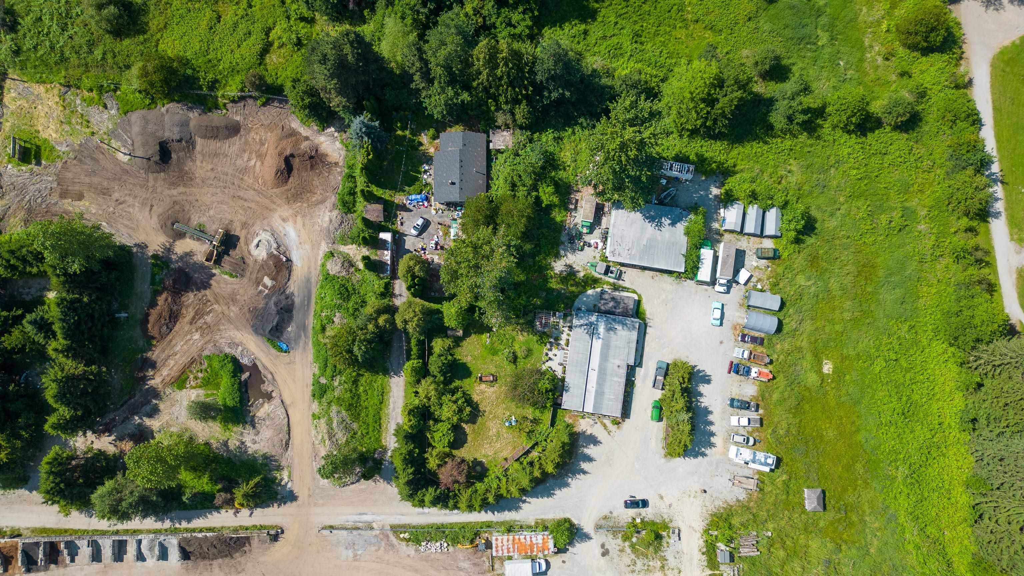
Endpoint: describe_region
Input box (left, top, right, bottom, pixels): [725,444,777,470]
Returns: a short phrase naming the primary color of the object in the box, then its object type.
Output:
white camper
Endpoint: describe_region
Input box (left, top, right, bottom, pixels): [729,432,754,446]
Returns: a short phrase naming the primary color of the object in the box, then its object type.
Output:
white car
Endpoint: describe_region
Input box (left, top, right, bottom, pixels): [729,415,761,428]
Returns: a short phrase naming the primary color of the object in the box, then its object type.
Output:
white vehicle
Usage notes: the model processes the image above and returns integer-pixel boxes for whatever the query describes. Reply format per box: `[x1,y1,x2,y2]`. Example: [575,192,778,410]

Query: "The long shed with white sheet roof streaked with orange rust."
[492,531,554,556]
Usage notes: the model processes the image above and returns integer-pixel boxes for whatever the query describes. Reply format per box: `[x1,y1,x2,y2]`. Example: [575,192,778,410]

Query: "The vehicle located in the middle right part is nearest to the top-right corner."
[754,247,780,260]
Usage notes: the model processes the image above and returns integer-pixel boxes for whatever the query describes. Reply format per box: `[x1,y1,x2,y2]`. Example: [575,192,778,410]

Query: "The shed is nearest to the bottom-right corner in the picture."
[801,485,822,510]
